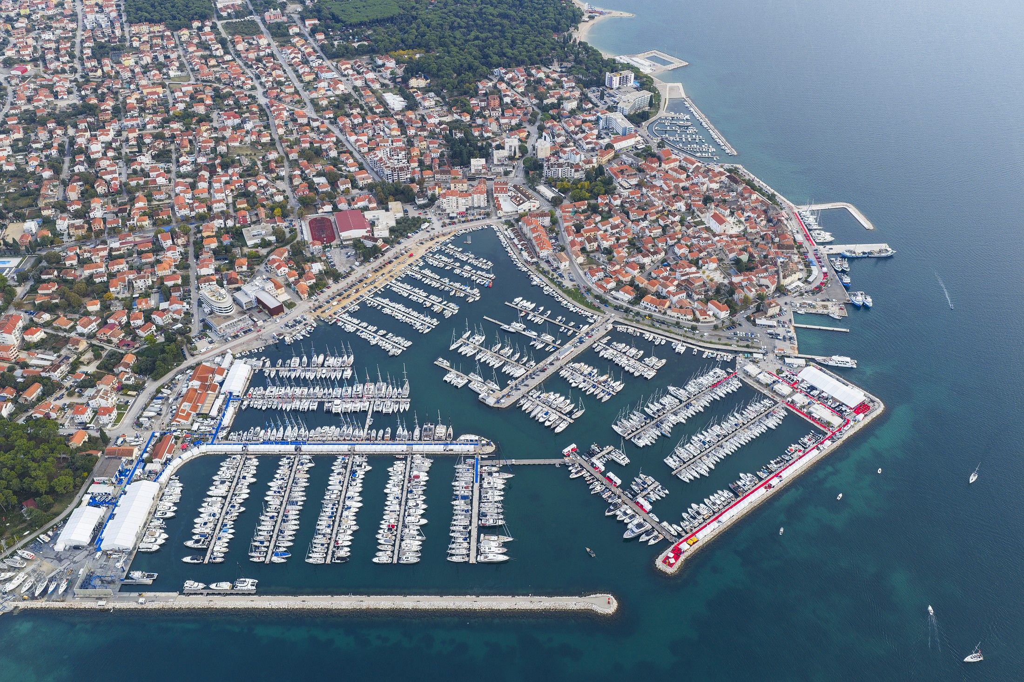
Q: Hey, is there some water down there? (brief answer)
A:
Yes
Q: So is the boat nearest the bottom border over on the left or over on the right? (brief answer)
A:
right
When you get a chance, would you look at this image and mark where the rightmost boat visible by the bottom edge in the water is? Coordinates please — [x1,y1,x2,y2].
[964,637,988,662]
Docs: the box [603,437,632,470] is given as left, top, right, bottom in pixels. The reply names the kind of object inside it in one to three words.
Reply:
boat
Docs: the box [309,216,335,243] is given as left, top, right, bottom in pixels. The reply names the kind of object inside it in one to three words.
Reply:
sports court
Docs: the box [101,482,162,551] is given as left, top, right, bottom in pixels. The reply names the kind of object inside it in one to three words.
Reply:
building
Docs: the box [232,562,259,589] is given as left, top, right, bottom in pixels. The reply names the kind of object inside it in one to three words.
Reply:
boat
